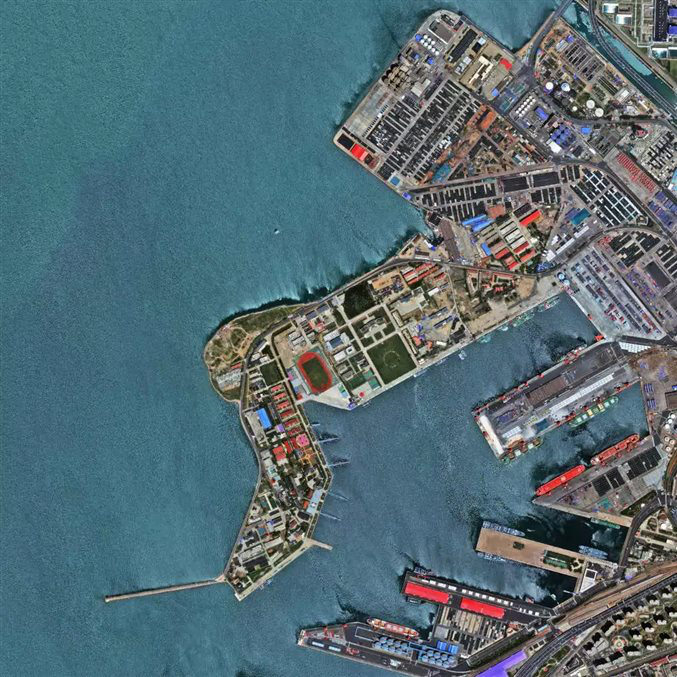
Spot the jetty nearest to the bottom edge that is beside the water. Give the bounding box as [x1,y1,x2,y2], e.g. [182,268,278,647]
[298,623,432,677]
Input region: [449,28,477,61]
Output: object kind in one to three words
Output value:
building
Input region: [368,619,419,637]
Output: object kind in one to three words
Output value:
ship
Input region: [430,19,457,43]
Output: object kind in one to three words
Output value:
building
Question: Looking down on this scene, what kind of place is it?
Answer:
port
